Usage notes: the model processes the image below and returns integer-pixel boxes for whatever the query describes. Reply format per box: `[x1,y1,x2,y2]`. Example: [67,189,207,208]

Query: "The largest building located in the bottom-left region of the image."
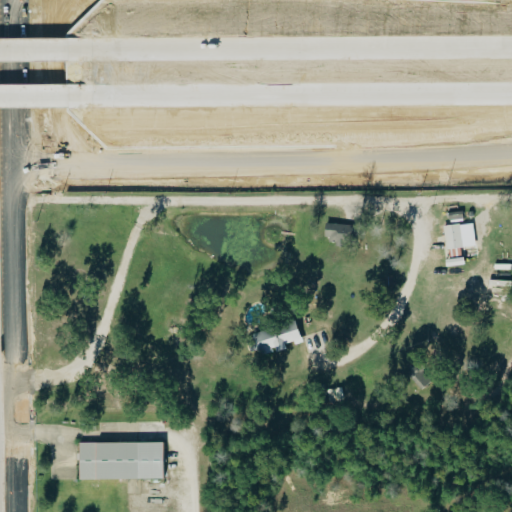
[76,442,164,480]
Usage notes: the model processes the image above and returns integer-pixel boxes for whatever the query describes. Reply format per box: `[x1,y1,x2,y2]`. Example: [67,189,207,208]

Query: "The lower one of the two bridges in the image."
[0,83,86,108]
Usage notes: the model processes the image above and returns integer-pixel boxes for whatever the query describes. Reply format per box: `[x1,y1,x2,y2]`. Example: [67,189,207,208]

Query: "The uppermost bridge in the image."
[0,36,86,62]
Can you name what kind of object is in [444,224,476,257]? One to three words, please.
house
